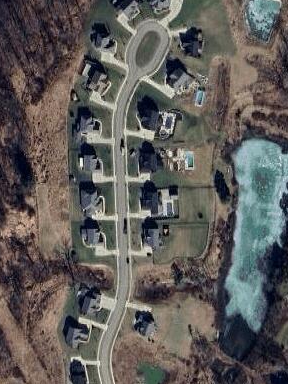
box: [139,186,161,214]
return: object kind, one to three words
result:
house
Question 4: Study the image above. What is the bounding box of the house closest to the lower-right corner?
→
[132,313,158,337]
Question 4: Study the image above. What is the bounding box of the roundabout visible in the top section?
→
[128,20,170,75]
